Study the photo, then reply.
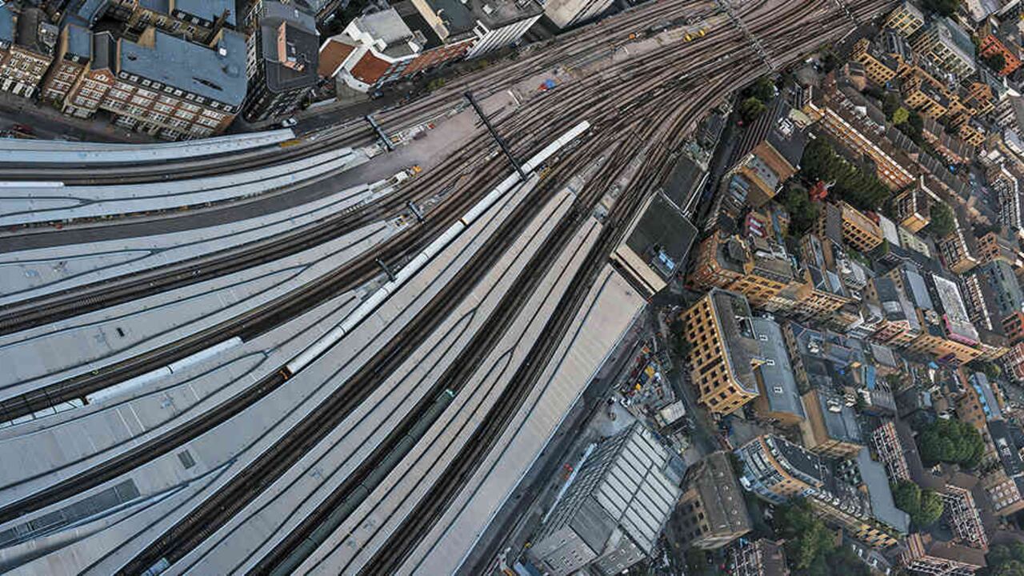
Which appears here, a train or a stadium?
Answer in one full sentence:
The one in the frame is a train.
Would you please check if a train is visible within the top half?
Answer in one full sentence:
Yes, a train shows up within the top half.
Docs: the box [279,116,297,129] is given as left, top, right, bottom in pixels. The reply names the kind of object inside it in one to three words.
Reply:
vehicle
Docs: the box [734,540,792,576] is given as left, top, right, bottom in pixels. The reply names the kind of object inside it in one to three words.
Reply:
building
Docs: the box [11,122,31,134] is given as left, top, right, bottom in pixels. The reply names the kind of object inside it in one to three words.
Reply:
vehicle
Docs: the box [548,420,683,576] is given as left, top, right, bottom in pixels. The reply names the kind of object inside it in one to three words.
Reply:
warehouse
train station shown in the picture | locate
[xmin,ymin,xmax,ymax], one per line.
[0,128,647,576]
